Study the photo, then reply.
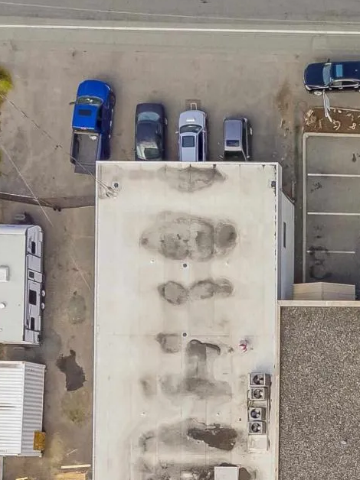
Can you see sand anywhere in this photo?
No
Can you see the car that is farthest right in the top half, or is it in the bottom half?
top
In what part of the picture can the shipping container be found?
bottom left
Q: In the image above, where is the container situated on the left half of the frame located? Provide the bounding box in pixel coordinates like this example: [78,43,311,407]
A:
[0,363,47,455]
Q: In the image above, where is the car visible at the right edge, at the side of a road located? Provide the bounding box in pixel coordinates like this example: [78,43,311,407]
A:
[305,59,360,97]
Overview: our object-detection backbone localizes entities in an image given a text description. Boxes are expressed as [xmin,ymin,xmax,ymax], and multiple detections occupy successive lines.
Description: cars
[305,59,360,97]
[176,111,212,162]
[134,104,170,162]
[219,116,254,164]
